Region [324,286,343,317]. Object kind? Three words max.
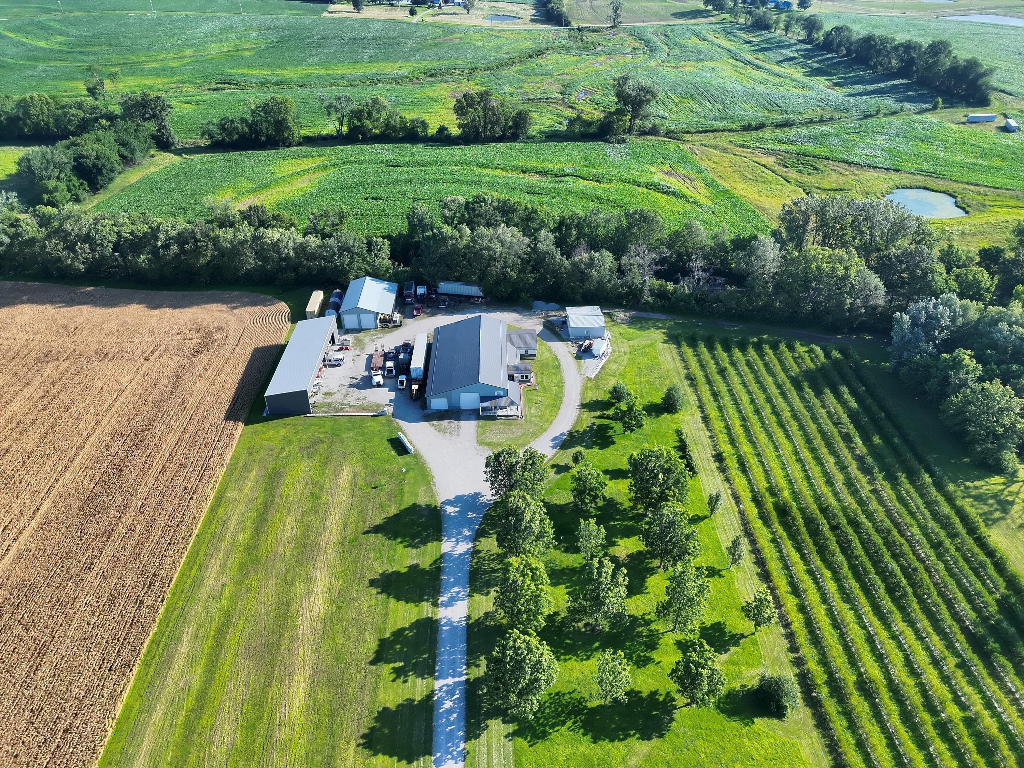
shed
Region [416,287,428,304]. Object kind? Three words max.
vehicle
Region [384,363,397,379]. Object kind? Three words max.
vehicle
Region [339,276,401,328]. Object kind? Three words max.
barn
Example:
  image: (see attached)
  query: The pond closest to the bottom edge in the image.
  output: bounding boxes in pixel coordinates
[887,188,966,217]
